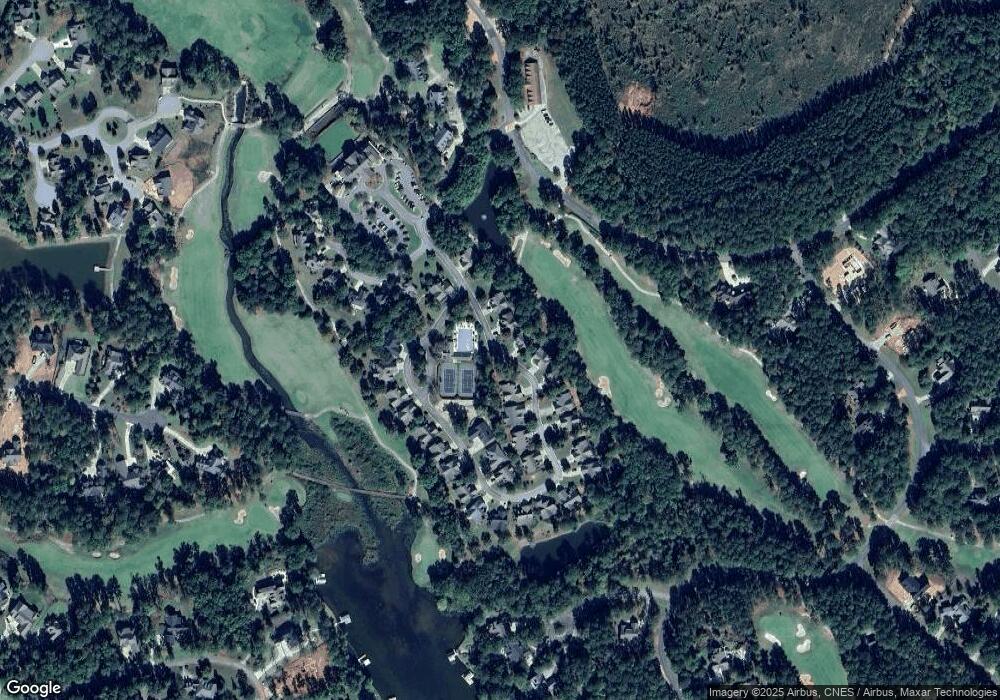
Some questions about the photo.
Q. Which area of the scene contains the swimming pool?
center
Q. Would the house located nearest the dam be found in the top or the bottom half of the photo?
top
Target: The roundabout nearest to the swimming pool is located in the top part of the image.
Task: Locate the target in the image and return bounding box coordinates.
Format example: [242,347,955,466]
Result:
[358,165,388,195]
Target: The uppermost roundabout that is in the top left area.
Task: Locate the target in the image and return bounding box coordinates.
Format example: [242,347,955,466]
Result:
[93,108,134,149]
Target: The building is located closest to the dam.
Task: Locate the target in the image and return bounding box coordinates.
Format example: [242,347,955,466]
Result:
[103,201,130,229]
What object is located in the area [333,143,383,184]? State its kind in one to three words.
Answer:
building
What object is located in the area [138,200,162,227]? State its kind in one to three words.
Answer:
house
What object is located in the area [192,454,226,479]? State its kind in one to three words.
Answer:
house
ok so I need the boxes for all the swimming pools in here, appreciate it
[452,321,479,352]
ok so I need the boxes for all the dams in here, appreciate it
[105,236,123,293]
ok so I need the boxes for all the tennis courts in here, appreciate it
[459,363,476,397]
[440,363,458,397]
